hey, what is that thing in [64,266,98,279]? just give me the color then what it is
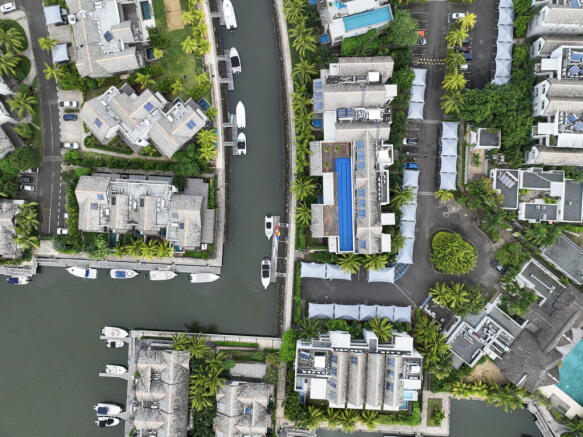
white boat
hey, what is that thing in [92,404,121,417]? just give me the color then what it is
white boat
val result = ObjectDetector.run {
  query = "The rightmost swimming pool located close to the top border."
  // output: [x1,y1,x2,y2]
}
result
[342,7,389,33]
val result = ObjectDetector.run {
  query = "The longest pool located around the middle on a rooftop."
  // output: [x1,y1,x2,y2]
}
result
[335,157,353,252]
